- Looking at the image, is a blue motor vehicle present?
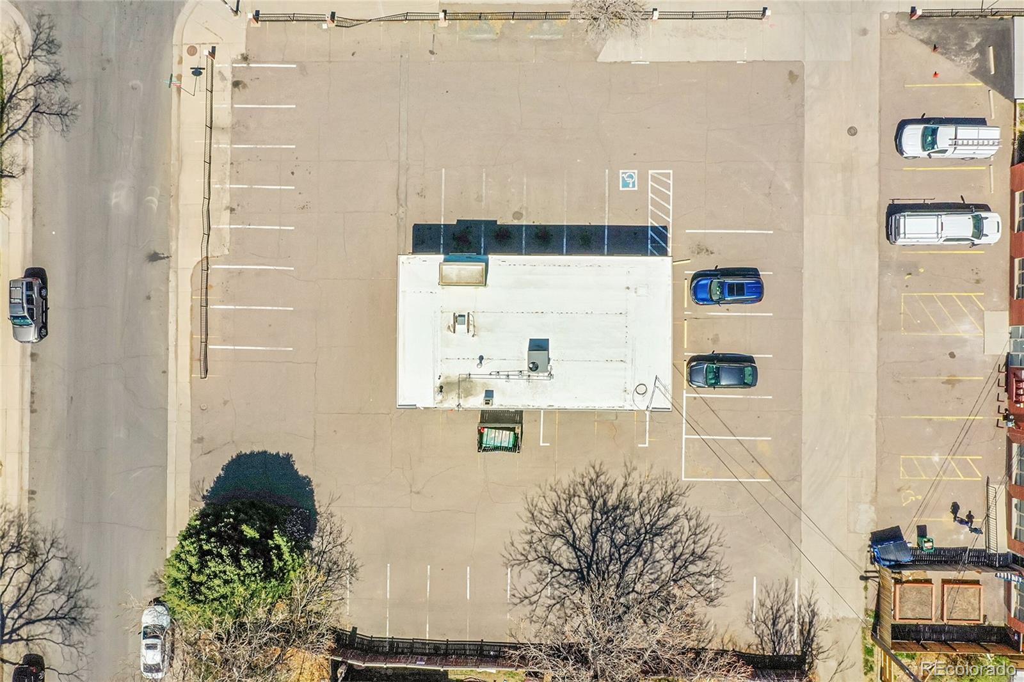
Yes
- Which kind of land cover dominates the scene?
paved ground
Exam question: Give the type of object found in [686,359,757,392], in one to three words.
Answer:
car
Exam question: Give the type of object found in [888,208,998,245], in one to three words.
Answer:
truck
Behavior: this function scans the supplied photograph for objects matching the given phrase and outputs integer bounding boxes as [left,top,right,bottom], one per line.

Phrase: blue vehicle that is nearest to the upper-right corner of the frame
[688,273,763,307]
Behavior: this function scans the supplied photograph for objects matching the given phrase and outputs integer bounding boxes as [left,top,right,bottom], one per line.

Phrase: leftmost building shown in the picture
[397,255,672,411]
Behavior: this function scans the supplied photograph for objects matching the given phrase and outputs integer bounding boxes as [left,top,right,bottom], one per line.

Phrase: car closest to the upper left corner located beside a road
[8,276,50,344]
